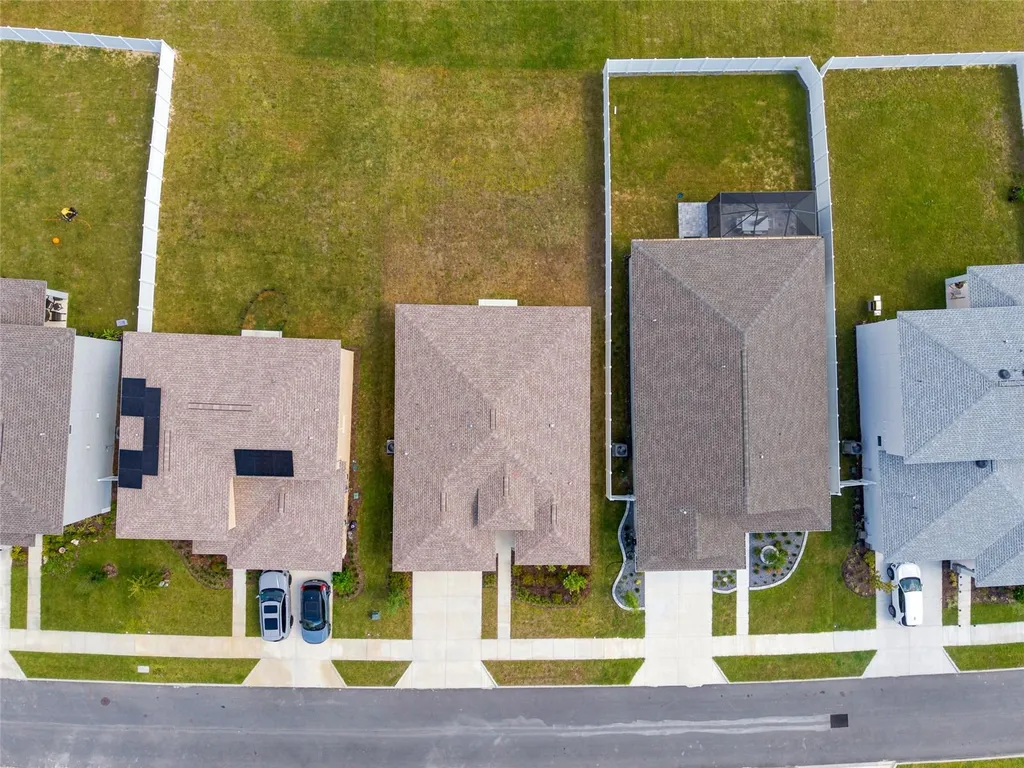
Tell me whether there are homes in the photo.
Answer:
Yes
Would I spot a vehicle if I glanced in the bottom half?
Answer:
Yes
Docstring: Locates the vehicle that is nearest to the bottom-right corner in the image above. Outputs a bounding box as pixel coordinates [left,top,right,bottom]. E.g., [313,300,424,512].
[888,562,926,628]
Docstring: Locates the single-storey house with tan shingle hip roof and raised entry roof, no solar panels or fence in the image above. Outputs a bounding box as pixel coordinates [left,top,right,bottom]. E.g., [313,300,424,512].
[392,304,593,573]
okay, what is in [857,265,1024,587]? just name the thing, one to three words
house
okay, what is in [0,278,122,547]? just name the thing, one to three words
house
